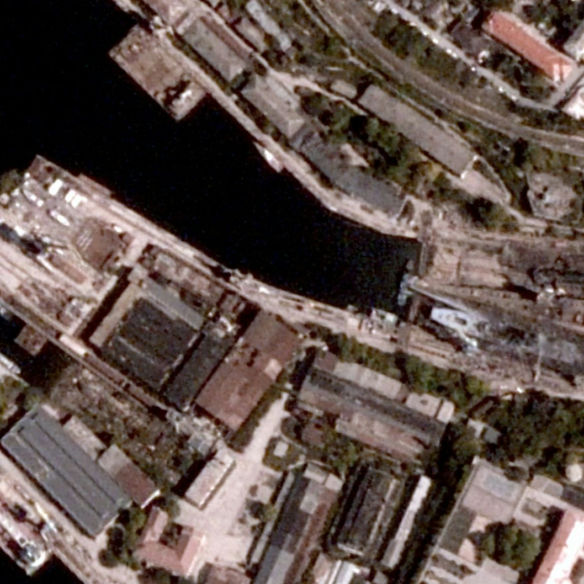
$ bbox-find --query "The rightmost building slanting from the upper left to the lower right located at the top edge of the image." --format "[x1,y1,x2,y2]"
[485,11,576,82]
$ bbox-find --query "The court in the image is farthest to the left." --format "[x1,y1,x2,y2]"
[481,472,518,500]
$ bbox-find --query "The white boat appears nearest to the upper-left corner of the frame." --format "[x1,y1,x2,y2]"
[23,189,42,201]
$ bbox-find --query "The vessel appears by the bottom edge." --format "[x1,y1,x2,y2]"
[0,499,51,576]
